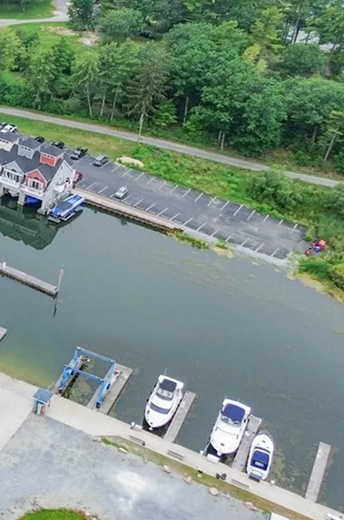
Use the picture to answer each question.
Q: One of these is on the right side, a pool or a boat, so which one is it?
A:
boat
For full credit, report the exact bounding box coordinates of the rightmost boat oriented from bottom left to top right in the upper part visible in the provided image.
[47,193,85,222]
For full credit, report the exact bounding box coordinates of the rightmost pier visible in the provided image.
[302,440,334,503]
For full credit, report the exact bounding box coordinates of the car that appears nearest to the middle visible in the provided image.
[114,183,131,199]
